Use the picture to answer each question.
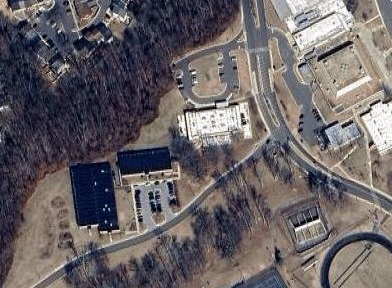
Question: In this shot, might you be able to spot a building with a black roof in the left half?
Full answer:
Yes, there is a building with a black roof in the left half.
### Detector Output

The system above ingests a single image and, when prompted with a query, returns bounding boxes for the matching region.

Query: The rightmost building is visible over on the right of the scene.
[360,102,392,158]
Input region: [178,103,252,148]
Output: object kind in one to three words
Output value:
building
